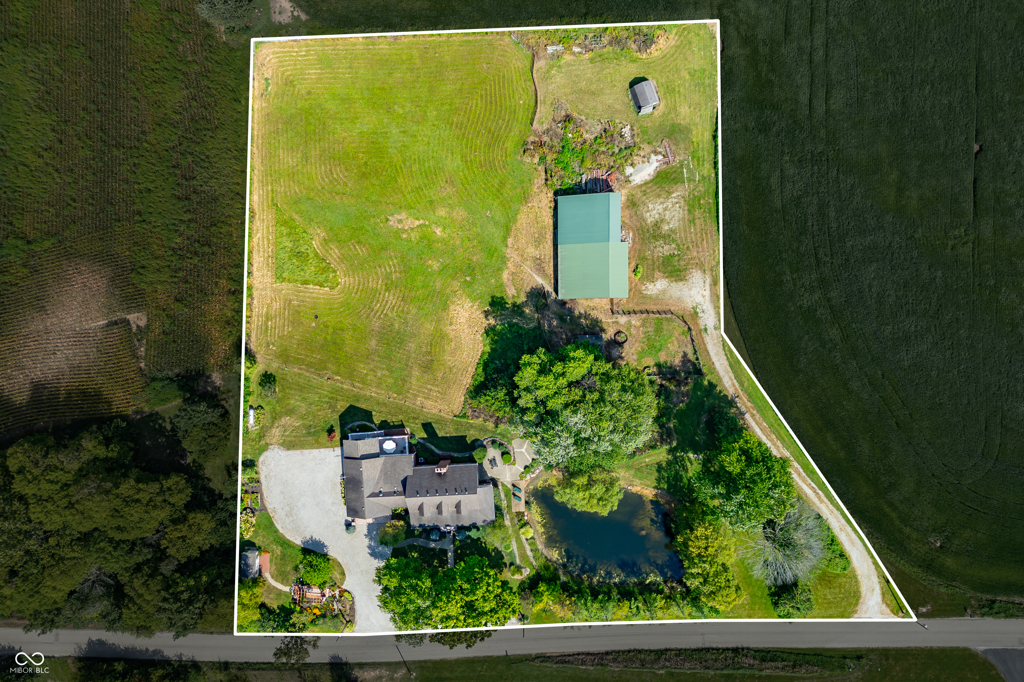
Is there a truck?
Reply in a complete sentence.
No, there is no truck in the image.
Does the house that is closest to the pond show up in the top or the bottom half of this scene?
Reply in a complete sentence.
You can find the house that is closest to the pond in the bottom half.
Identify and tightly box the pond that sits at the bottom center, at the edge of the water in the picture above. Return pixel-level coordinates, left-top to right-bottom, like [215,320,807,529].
[534,482,678,583]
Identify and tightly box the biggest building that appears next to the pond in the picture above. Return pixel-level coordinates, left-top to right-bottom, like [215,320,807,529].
[339,427,496,533]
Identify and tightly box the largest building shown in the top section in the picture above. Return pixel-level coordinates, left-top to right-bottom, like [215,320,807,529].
[557,193,629,299]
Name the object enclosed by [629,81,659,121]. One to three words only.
shed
